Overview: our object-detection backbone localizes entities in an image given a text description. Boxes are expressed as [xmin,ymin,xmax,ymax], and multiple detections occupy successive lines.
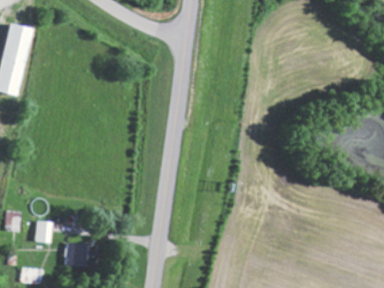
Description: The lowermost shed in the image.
[20,266,44,284]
